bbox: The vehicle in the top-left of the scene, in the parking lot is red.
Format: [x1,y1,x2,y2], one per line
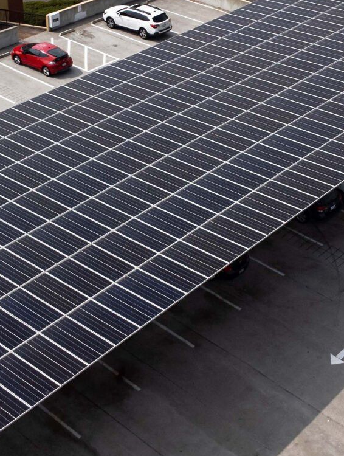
[9,40,75,76]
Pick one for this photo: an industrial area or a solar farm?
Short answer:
solar farm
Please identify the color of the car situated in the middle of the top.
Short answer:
white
